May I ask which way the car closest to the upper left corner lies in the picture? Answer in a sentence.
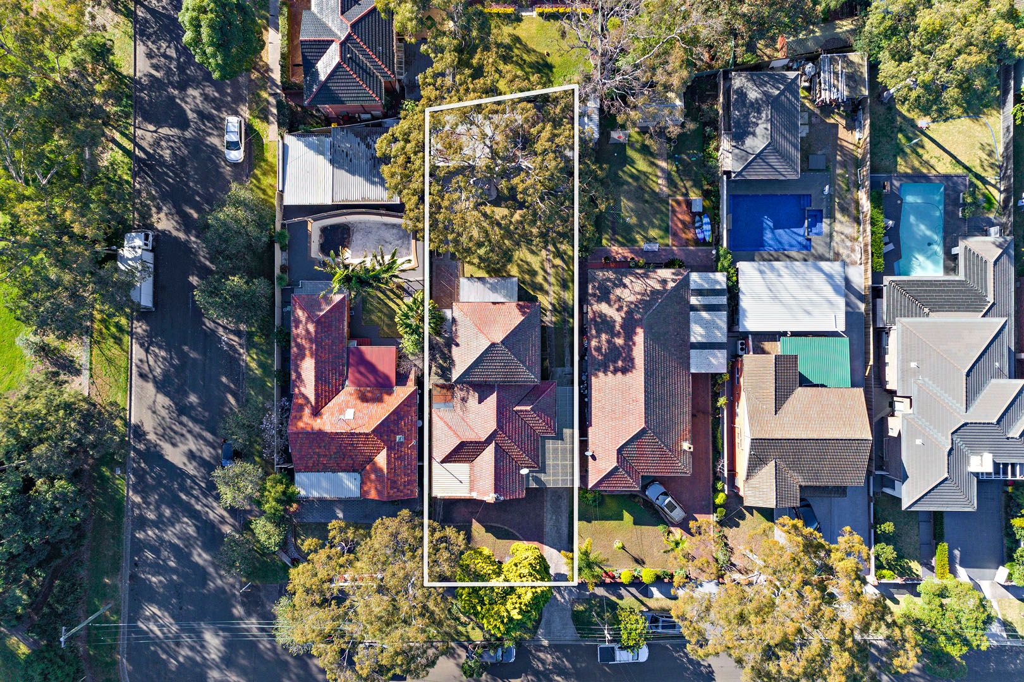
I'd say the car closest to the upper left corner is aligned vertically in the picture.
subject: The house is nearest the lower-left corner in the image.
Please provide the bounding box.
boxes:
[288,293,418,502]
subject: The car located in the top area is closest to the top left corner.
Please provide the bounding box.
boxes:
[222,116,246,163]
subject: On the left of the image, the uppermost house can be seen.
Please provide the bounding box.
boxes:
[299,0,397,108]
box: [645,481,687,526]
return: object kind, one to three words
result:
car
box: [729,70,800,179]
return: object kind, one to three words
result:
building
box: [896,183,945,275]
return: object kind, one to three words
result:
swimming pool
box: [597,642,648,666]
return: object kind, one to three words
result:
truck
